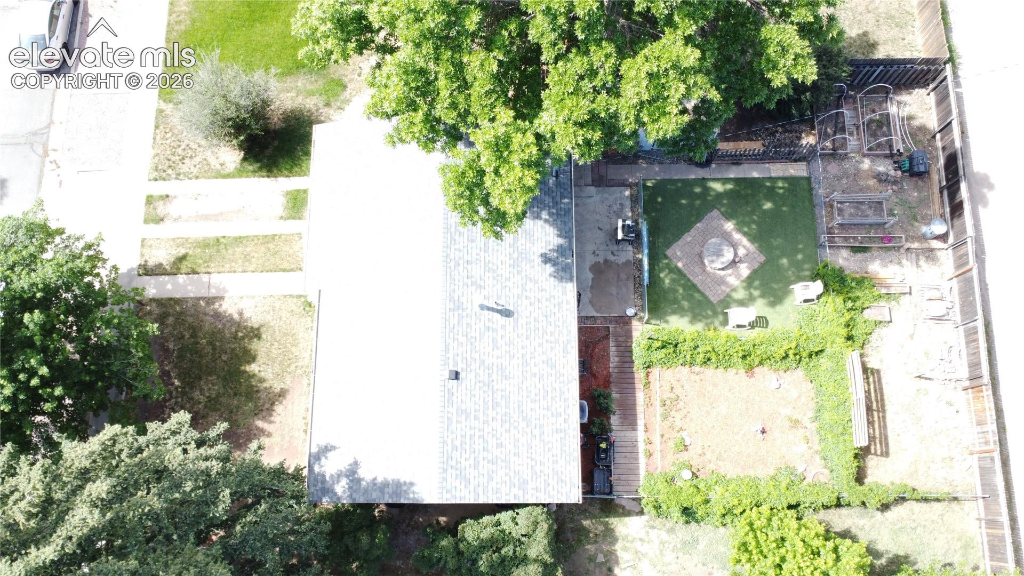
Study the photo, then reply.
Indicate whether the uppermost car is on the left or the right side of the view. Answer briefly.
left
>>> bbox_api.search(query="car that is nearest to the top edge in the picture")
[14,0,74,71]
